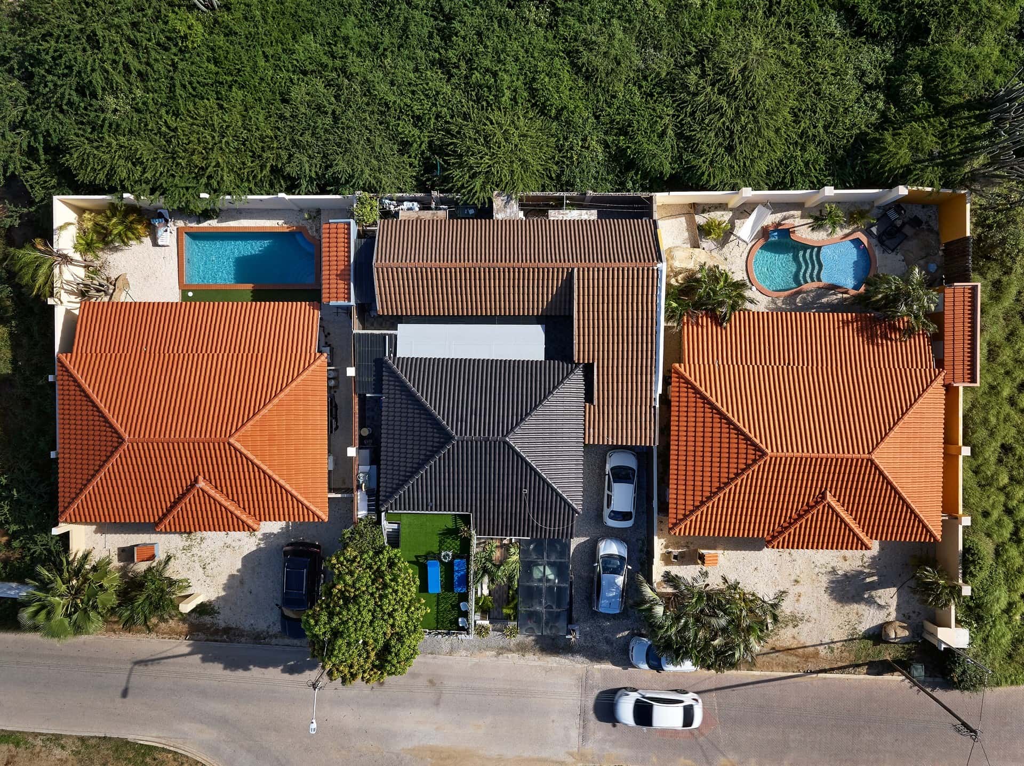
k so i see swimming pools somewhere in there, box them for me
[747,222,877,298]
[177,225,321,290]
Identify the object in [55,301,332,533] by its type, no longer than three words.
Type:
house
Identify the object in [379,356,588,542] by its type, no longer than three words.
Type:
house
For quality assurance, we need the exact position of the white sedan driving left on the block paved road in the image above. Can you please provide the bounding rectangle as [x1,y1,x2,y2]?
[613,688,703,733]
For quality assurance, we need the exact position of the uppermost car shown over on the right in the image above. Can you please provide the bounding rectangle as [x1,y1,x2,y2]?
[602,448,641,530]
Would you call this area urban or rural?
urban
